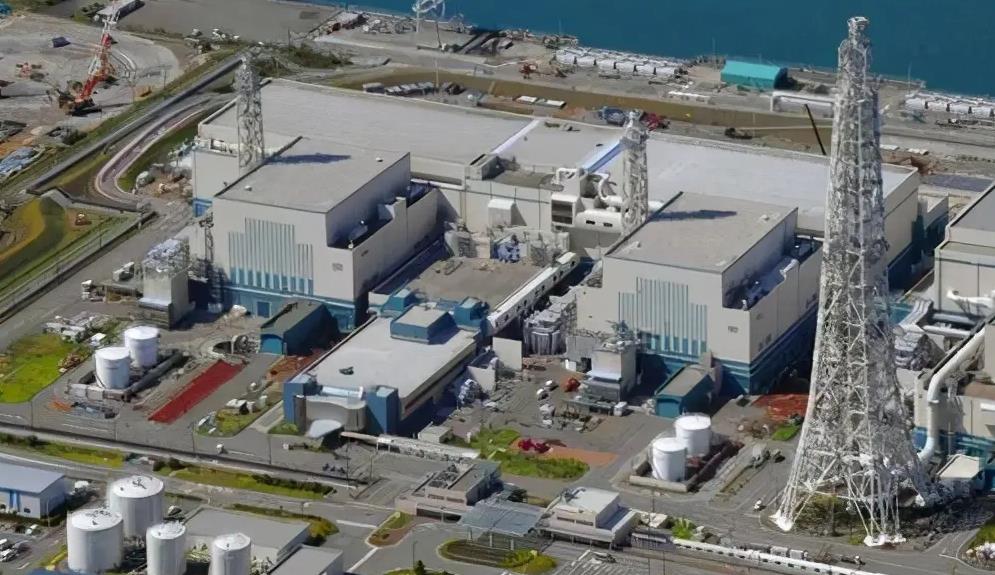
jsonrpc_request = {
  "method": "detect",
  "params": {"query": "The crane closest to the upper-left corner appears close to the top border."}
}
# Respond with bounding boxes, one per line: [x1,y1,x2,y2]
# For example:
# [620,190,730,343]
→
[51,0,126,109]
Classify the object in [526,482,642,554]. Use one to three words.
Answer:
building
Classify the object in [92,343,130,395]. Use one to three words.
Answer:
storage tank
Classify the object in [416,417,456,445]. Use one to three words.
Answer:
shed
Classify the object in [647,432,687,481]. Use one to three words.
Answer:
storage tank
